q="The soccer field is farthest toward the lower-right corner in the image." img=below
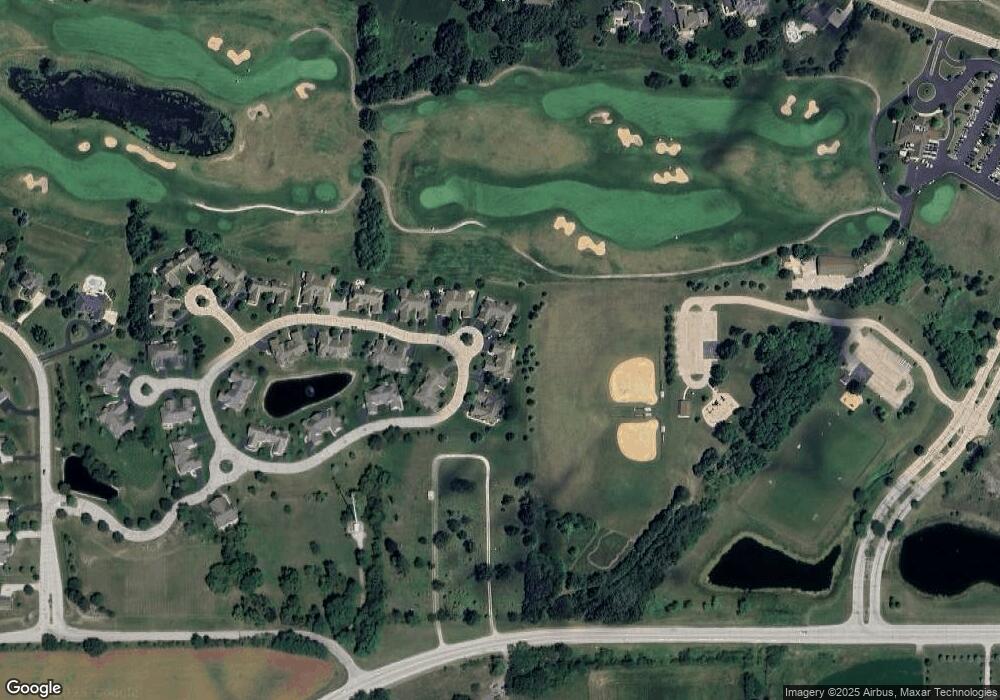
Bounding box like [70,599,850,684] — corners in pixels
[748,406,886,534]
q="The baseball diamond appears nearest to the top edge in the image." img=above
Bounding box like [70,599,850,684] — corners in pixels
[540,300,662,408]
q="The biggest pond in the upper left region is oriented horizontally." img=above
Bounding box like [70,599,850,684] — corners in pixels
[8,66,236,158]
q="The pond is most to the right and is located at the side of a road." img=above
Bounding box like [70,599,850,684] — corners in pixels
[898,522,1000,597]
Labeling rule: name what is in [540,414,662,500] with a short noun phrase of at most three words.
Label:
baseball field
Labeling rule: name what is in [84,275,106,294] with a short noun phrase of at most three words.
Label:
swimming pool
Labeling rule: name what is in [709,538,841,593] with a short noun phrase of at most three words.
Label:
pond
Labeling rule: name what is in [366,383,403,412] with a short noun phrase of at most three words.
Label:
house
